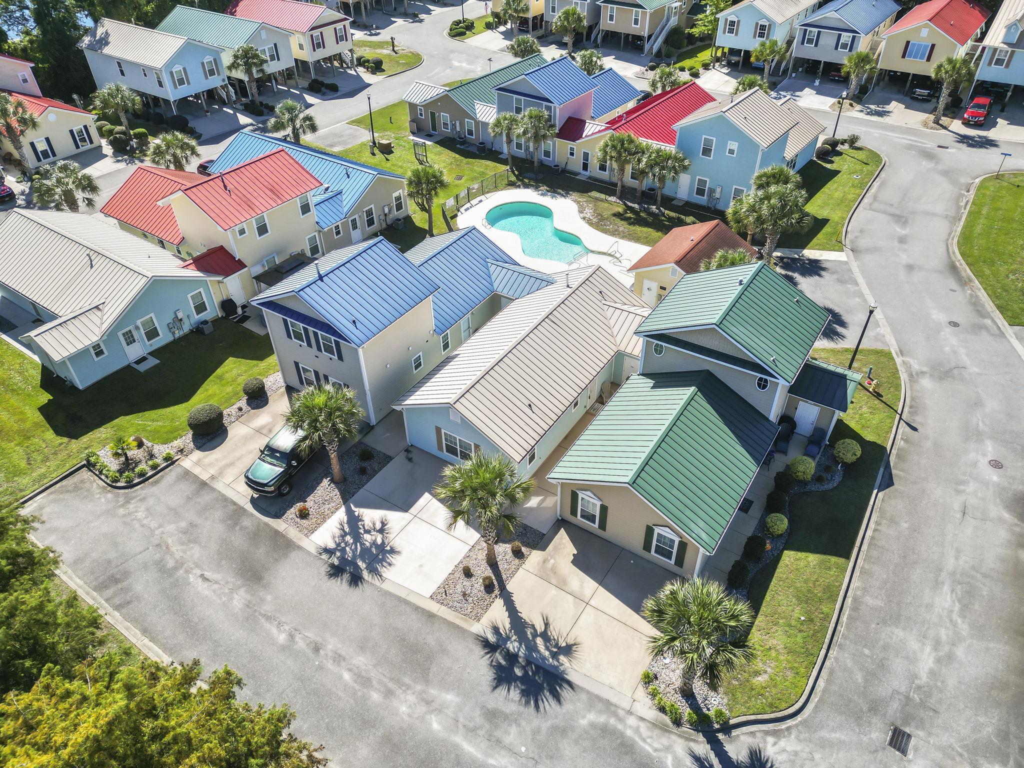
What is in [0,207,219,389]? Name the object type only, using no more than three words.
house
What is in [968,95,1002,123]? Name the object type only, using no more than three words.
truck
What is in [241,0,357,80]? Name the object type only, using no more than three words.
house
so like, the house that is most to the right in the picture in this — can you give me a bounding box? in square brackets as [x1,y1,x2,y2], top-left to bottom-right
[967,7,1024,111]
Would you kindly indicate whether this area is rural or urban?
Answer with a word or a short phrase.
urban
